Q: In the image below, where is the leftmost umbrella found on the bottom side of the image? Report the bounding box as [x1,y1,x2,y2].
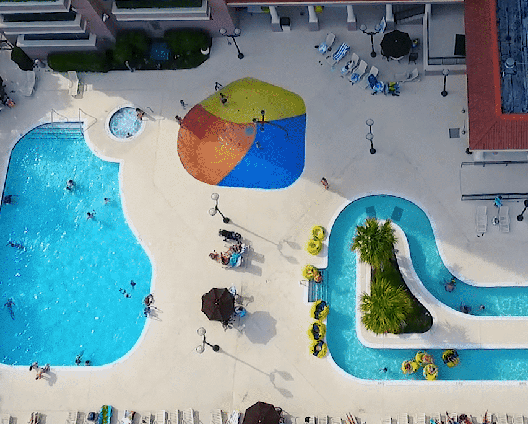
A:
[204,286,239,322]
